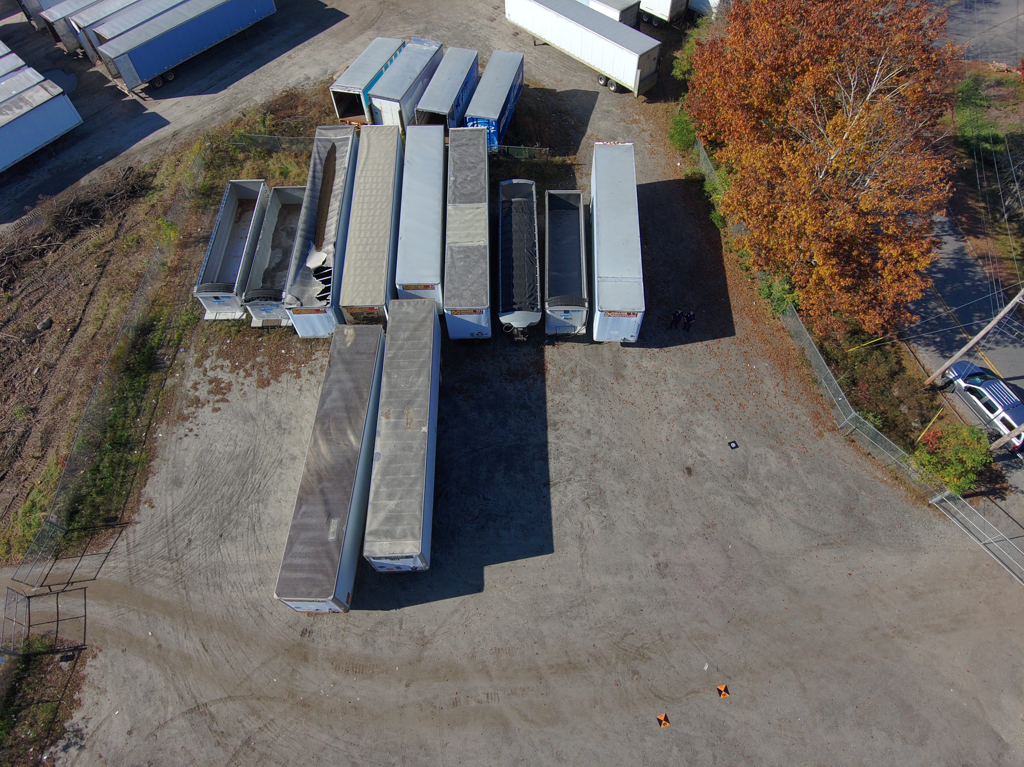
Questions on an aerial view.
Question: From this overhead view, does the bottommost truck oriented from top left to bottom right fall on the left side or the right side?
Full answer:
You can find the bottommost truck oriented from top left to bottom right on the right side of the picture.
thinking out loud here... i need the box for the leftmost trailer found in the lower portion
[276,325,386,614]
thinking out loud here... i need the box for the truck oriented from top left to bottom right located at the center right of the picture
[940,364,1024,460]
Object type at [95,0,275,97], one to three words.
trailer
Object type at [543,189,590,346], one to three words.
trailer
